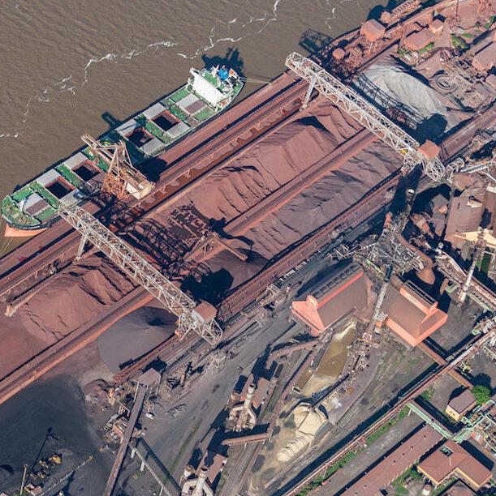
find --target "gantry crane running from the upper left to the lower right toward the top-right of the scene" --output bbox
[282,52,445,193]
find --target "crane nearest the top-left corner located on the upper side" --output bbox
[77,133,151,204]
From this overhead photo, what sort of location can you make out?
port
